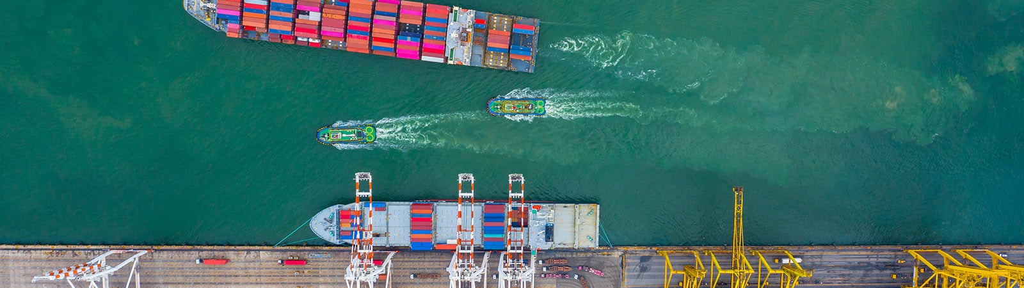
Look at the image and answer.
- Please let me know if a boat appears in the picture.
Yes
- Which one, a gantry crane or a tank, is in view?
gantry crane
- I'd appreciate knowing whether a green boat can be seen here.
Yes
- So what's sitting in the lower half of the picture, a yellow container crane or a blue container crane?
yellow container crane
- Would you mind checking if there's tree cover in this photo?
No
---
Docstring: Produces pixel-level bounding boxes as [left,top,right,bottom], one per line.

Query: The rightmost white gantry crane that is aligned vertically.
[497,174,538,288]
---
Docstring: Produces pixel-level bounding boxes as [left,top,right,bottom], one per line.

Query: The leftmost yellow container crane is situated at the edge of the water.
[655,251,709,288]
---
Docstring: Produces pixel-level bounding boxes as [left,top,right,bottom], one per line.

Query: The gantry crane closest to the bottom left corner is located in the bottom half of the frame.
[36,251,155,288]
